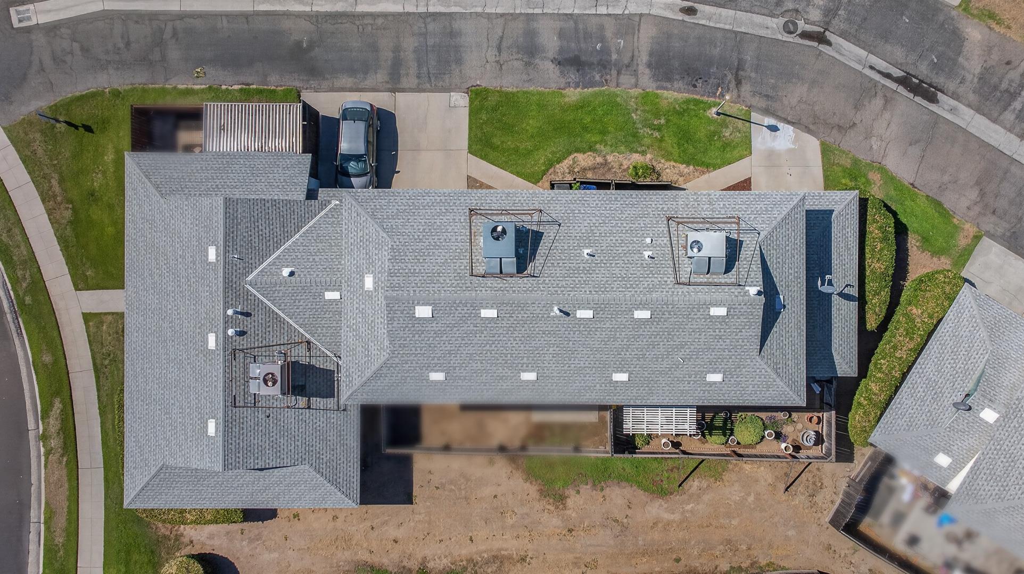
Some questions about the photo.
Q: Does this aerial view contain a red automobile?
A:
No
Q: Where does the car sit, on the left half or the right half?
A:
left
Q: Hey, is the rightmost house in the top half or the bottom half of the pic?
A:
bottom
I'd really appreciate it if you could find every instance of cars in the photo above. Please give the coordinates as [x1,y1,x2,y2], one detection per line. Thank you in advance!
[331,102,380,189]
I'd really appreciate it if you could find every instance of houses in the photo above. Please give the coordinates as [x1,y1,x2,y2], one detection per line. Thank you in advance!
[124,151,859,510]
[868,282,1024,544]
